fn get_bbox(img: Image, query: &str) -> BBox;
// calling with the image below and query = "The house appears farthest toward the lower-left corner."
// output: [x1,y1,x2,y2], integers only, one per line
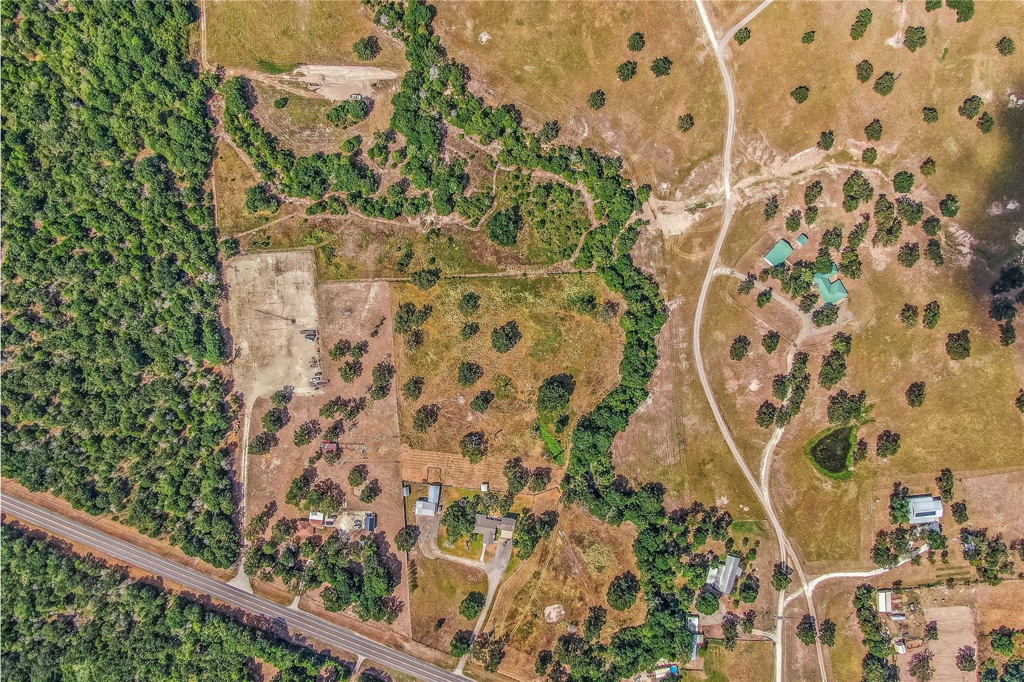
[298,511,335,536]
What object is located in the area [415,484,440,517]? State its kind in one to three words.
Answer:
building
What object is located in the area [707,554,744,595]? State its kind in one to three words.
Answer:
house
